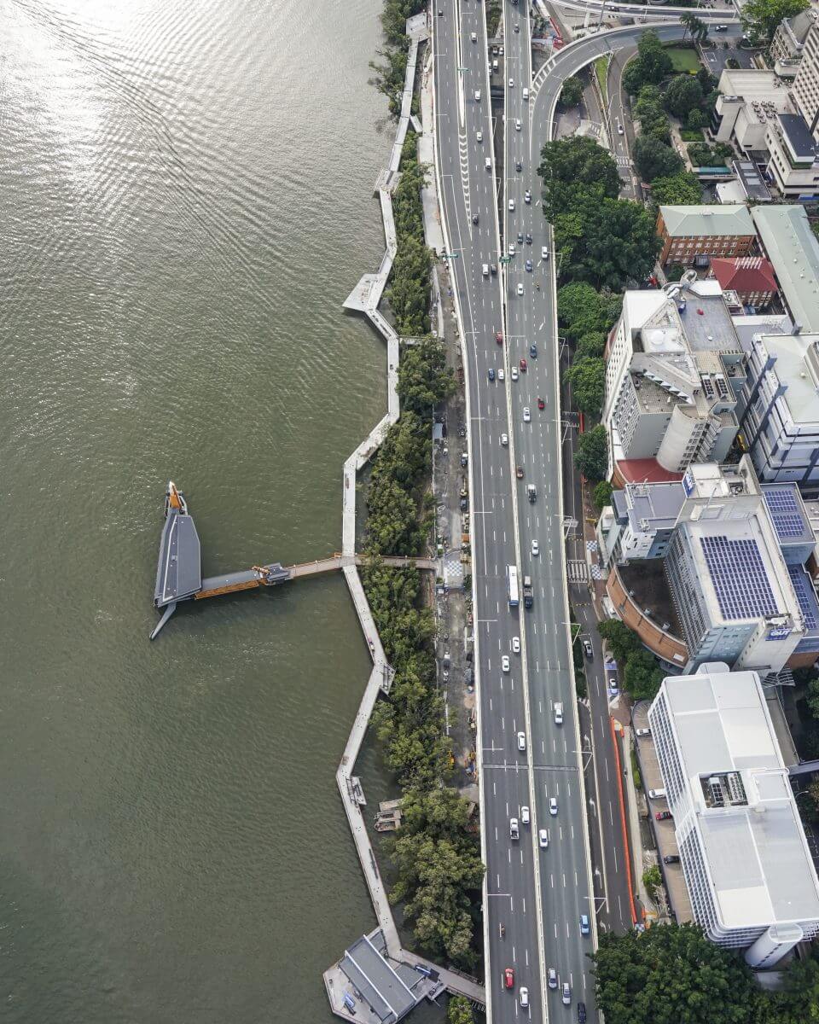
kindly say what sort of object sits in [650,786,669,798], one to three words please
vehicle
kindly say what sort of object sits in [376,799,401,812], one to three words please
ship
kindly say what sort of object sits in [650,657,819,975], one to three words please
building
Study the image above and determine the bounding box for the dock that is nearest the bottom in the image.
[323,925,445,1024]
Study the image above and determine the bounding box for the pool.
[693,166,735,186]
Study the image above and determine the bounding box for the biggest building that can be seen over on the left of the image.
[150,480,344,642]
